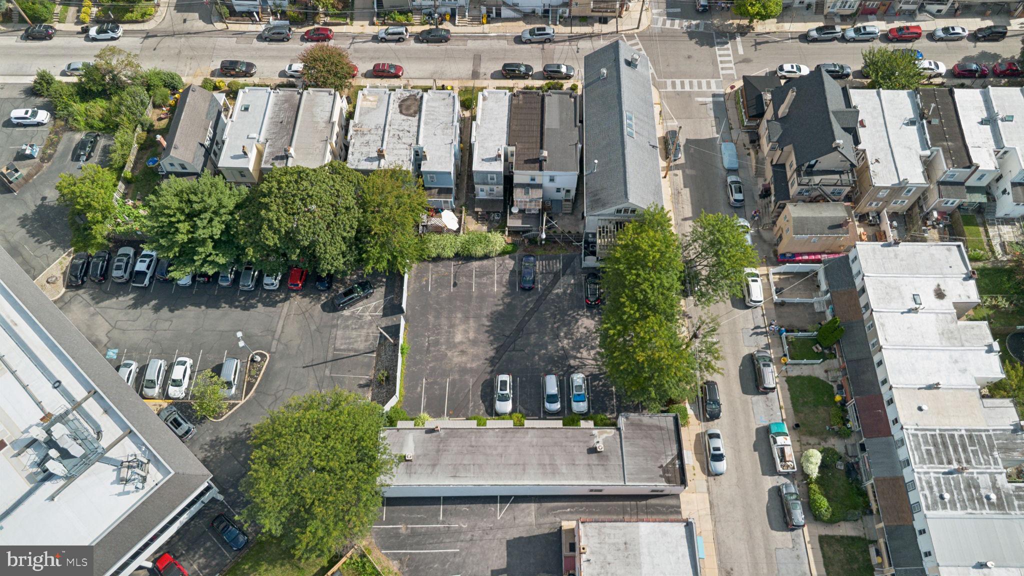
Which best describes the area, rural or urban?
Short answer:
urban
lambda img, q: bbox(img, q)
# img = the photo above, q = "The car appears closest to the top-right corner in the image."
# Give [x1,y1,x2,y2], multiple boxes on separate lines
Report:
[973,25,1010,42]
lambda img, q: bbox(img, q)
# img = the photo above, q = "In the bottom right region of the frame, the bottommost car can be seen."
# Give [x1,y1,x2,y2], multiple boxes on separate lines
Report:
[776,483,807,529]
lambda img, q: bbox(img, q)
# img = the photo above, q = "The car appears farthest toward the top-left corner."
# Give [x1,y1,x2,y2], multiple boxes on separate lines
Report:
[23,24,58,41]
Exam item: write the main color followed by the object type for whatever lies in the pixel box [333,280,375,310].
black car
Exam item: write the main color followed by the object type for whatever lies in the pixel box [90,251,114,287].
black car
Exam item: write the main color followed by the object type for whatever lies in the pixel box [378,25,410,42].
gray car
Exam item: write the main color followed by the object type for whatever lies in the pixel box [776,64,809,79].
white car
